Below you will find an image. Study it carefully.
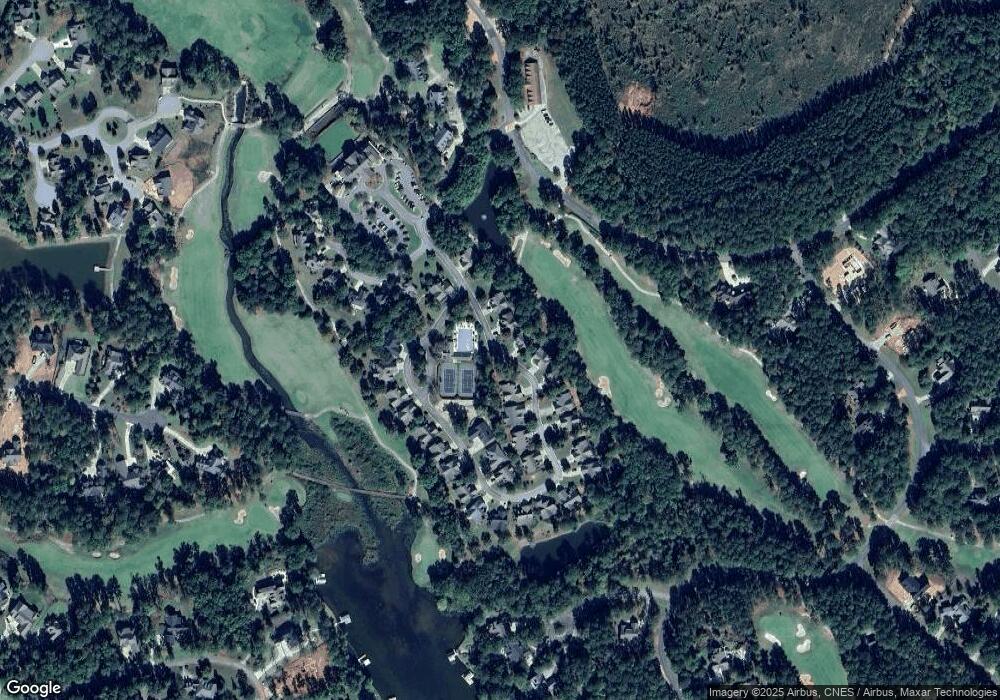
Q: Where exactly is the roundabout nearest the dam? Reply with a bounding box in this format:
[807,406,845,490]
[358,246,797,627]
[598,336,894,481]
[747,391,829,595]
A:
[93,108,134,149]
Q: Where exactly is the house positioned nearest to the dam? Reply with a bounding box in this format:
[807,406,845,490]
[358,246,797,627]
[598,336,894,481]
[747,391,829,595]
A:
[103,201,130,229]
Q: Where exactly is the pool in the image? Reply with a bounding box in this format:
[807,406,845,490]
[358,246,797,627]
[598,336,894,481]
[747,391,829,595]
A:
[452,321,479,352]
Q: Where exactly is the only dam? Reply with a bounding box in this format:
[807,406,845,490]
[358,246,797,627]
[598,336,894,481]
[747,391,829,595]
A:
[105,236,123,293]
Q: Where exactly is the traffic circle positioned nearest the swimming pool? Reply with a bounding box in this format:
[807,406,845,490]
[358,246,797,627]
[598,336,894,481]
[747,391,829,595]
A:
[358,165,388,195]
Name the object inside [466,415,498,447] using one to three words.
house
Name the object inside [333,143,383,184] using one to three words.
building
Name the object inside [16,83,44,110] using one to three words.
house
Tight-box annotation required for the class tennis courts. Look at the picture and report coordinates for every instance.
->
[459,363,476,397]
[440,363,458,397]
